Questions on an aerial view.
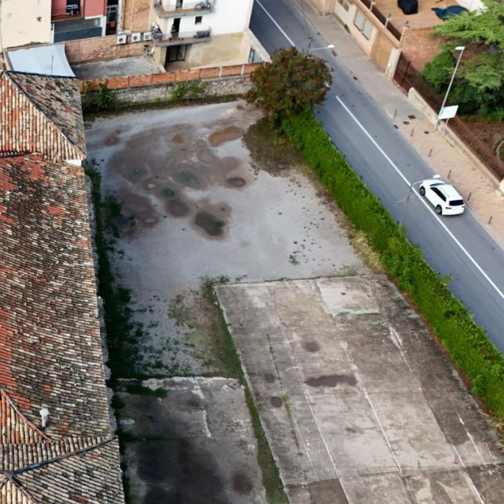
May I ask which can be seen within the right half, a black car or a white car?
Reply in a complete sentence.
The one visible within the right half is a white car.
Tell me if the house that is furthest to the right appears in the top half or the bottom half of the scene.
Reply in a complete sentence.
You can find the house that is furthest to the right in the top half.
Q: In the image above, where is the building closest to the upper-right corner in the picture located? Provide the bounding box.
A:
[323,0,419,85]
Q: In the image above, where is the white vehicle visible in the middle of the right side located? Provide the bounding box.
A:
[421,181,468,217]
